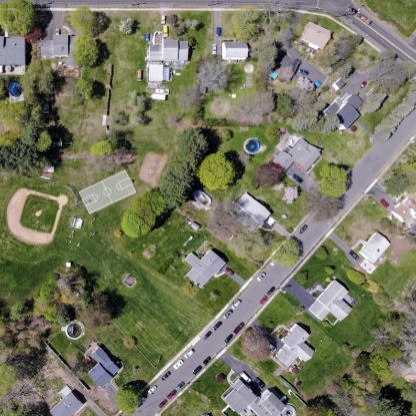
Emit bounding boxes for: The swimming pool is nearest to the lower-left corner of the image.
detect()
[61,321,85,342]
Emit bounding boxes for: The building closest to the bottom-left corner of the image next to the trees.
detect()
[51,385,88,416]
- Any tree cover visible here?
Yes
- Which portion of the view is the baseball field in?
left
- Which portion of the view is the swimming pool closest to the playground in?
center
